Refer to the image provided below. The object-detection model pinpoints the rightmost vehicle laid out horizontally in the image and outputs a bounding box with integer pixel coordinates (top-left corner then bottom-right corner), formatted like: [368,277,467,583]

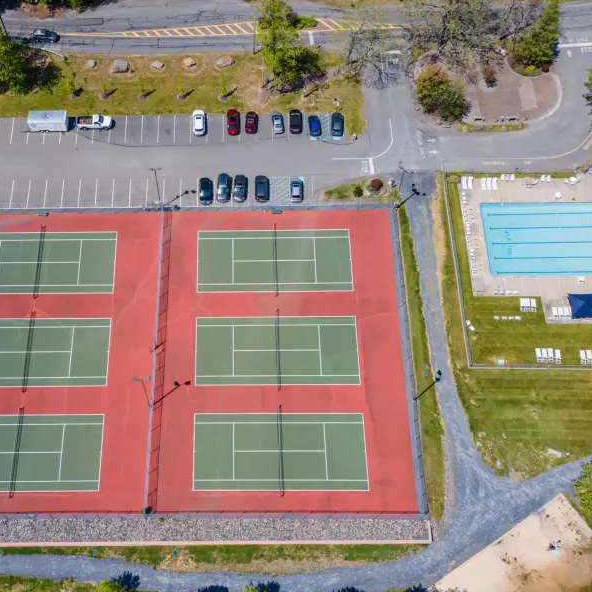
[76,114,111,129]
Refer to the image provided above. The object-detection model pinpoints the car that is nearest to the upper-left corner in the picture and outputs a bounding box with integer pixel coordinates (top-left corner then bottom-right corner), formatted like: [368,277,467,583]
[30,27,58,42]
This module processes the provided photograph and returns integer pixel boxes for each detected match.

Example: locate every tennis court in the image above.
[0,310,111,392]
[193,405,369,496]
[195,309,361,389]
[0,224,117,298]
[197,221,353,297]
[0,407,104,498]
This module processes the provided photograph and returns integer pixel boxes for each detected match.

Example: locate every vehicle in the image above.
[192,111,205,134]
[226,110,239,134]
[291,176,303,201]
[199,178,212,204]
[245,111,257,135]
[30,27,58,42]
[290,110,302,134]
[271,111,285,135]
[331,112,344,137]
[308,114,322,137]
[76,114,111,129]
[217,173,231,200]
[255,174,269,201]
[234,175,247,200]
